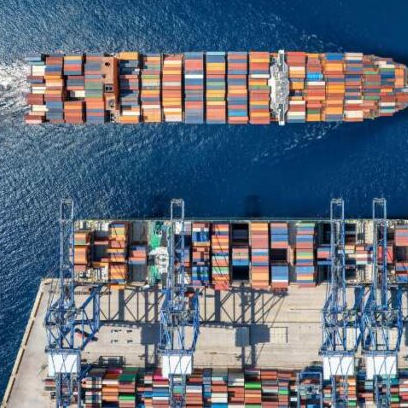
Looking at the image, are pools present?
No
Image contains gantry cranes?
Yes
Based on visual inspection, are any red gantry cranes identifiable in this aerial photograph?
No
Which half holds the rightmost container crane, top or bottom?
bottom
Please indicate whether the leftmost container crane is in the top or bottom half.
bottom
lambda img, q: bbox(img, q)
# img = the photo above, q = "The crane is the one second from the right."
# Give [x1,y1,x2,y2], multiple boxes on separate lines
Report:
[315,201,372,404]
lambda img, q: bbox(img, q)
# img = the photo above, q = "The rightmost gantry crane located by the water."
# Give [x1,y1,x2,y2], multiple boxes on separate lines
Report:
[358,201,408,404]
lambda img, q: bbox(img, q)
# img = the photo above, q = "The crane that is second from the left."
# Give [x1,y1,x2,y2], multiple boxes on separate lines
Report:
[148,201,225,404]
